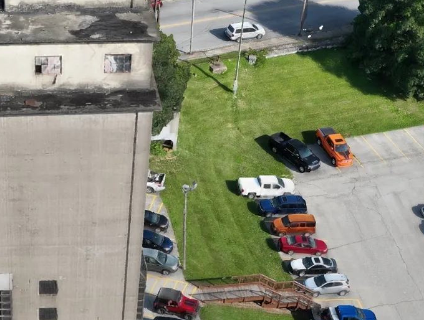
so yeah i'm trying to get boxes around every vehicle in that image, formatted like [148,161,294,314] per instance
[277,236,327,255]
[301,273,352,297]
[319,132,349,165]
[239,176,294,196]
[258,194,308,216]
[308,306,375,320]
[147,176,167,194]
[271,214,317,236]
[146,0,160,7]
[152,286,201,320]
[286,256,339,276]
[143,231,173,255]
[273,137,315,168]
[147,251,180,276]
[144,211,169,234]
